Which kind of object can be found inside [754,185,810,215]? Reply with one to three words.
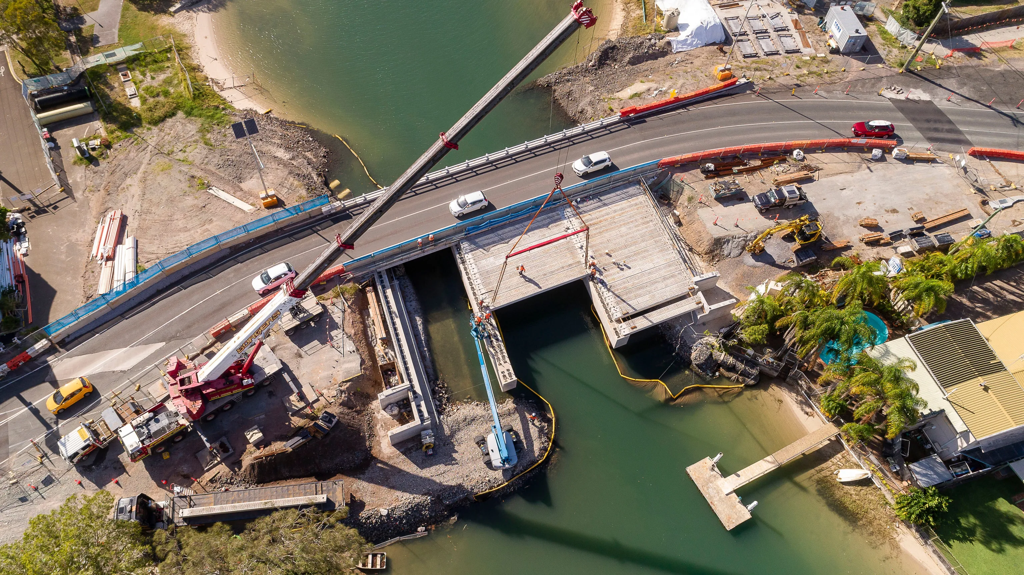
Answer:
truck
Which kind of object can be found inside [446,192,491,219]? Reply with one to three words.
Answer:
car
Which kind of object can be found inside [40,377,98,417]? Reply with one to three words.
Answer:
car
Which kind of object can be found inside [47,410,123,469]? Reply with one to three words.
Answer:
truck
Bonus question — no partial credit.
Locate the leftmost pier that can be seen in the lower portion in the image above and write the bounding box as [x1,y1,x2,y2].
[684,452,759,532]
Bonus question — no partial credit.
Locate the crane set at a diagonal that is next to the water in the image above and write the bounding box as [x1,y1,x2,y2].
[115,7,597,463]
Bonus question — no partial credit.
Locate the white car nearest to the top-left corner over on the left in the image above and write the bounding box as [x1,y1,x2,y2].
[248,262,296,296]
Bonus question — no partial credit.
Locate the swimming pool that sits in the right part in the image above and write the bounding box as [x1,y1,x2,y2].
[817,307,892,371]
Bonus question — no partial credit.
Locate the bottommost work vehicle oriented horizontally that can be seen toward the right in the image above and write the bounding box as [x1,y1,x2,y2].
[749,211,830,254]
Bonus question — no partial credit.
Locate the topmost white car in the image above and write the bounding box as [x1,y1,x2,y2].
[571,151,613,177]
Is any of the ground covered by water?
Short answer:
Yes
